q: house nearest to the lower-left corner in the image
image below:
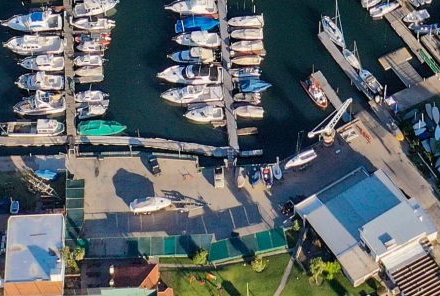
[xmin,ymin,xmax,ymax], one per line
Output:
[3,212,67,296]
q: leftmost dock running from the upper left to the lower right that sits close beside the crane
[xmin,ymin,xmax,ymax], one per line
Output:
[305,70,345,115]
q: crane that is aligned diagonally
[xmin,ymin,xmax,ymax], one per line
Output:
[304,99,352,146]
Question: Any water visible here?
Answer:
Yes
